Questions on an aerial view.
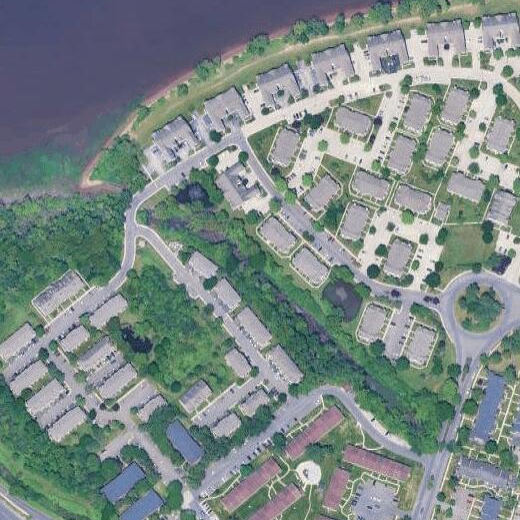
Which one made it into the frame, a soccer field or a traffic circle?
traffic circle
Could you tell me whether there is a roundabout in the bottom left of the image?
No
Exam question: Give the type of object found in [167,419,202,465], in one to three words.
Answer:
building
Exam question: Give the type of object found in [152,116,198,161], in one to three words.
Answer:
building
